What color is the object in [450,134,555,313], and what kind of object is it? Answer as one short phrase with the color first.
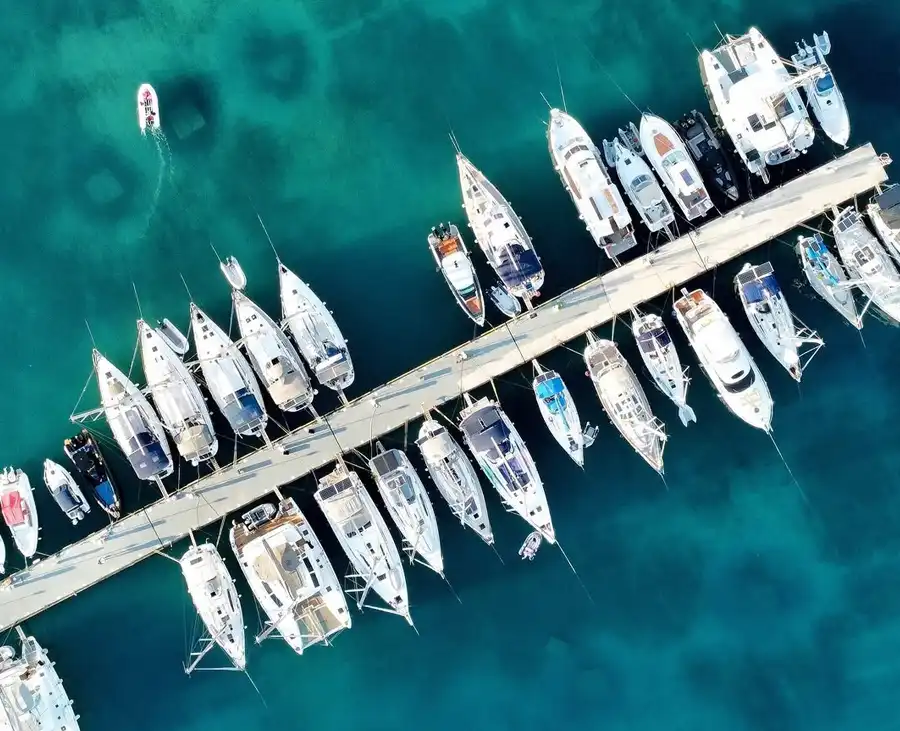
white boat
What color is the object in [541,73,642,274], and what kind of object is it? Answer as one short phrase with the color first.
white boat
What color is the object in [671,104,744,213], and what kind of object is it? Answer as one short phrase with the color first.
black boat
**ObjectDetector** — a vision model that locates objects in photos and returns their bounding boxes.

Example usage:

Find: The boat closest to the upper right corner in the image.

[811,28,832,55]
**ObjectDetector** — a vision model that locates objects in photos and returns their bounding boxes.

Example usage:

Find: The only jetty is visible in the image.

[0,141,889,633]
